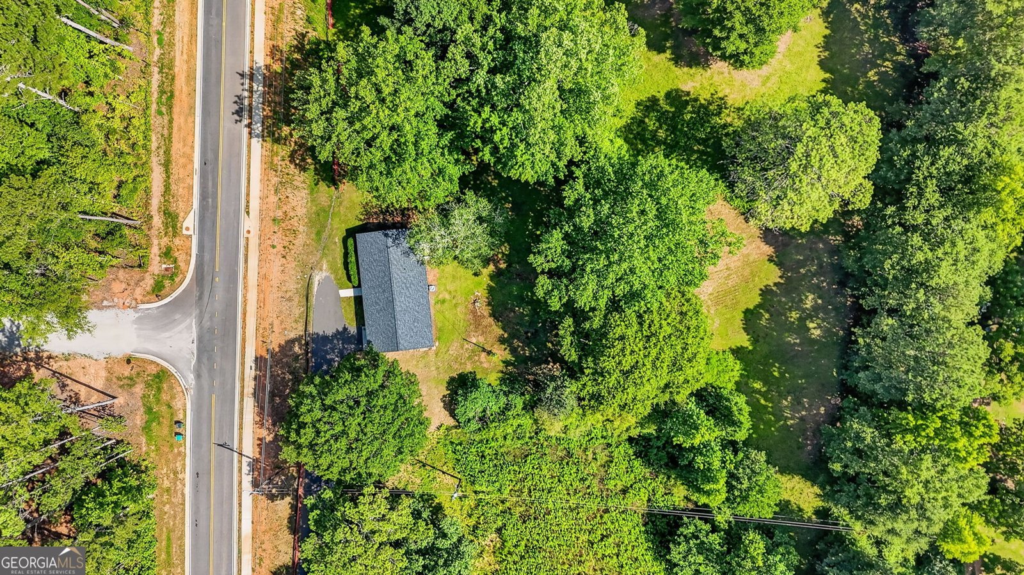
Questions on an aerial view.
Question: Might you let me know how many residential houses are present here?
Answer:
1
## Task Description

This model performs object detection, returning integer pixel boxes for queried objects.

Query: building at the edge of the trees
[355,228,434,353]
